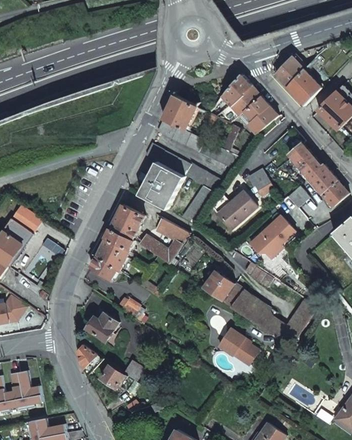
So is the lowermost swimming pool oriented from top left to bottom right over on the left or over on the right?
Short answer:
right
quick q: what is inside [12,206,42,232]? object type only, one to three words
building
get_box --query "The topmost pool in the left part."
[30,257,47,277]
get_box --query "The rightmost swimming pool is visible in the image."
[288,384,316,405]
